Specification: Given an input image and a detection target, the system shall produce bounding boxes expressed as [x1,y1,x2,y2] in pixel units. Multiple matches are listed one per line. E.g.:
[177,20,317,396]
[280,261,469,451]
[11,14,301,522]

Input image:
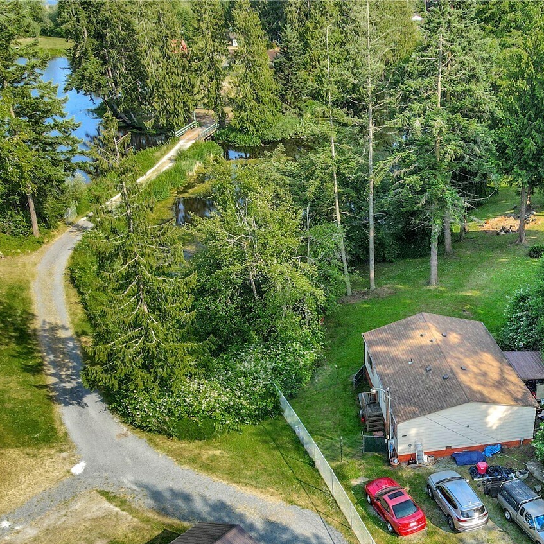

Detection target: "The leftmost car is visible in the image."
[363,478,427,539]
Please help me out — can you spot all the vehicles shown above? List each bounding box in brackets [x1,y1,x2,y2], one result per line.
[363,478,427,539]
[425,472,488,536]
[495,477,544,544]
